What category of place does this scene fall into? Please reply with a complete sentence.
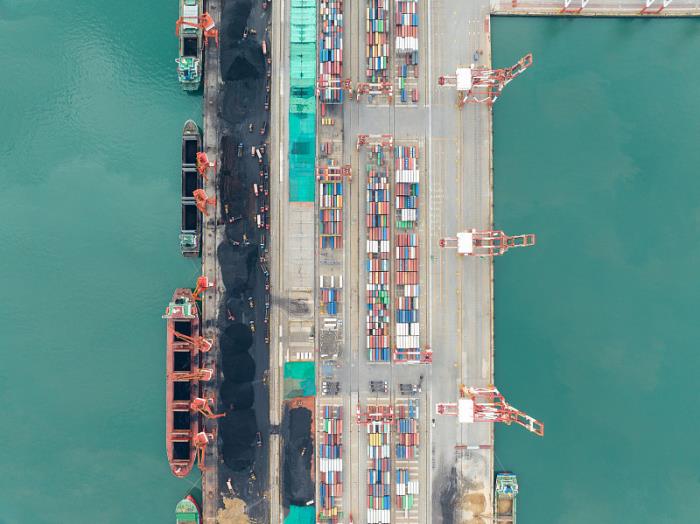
This looks like a port.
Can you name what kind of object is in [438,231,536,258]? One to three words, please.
container crane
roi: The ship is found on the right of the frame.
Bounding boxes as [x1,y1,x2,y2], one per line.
[494,471,518,524]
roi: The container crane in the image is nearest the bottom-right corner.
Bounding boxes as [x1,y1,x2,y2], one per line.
[438,382,543,436]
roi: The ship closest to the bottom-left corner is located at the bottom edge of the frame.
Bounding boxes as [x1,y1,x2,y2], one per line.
[176,494,202,524]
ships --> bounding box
[176,0,202,93]
[494,471,518,524]
[162,289,202,477]
[180,120,202,258]
[176,494,202,524]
